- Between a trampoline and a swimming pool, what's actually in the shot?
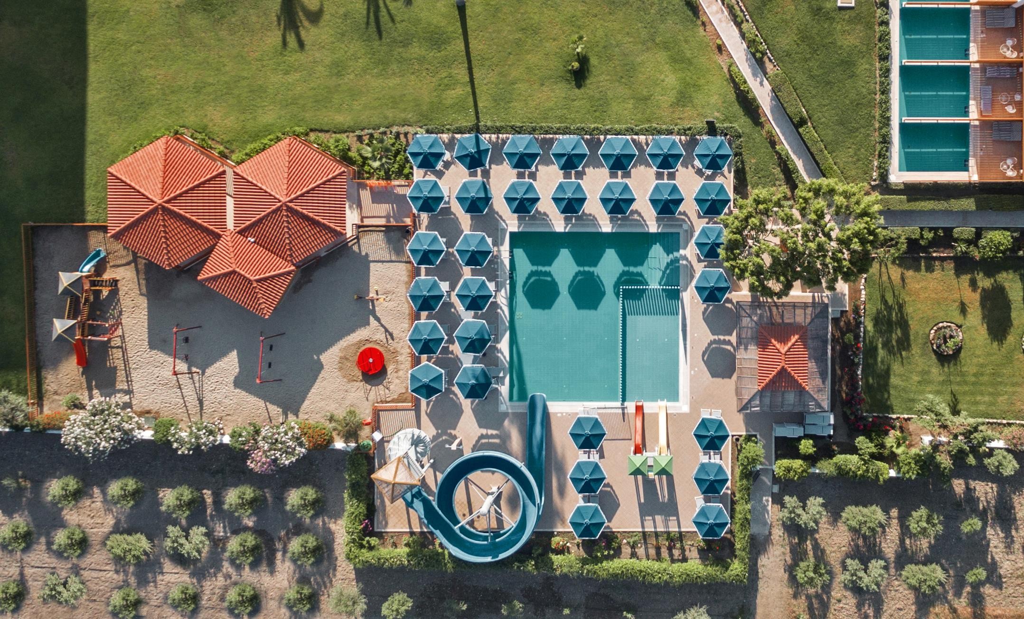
swimming pool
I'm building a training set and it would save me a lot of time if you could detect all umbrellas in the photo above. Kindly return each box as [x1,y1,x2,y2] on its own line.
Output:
[407,277,446,312]
[692,459,732,495]
[597,180,637,215]
[454,232,494,267]
[410,362,445,402]
[567,415,606,450]
[407,231,446,266]
[407,135,446,170]
[691,415,730,450]
[567,504,607,539]
[503,180,541,215]
[551,180,590,215]
[693,268,732,303]
[550,136,590,171]
[453,318,493,355]
[694,136,733,172]
[692,181,732,216]
[503,134,541,169]
[568,459,606,494]
[454,277,494,312]
[454,179,493,215]
[692,504,731,539]
[453,133,492,171]
[647,135,686,171]
[598,136,636,170]
[646,181,685,217]
[405,179,445,214]
[454,364,493,400]
[693,224,731,260]
[406,320,446,356]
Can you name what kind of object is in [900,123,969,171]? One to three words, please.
swimming pool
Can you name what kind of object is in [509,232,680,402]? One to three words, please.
swimming pool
